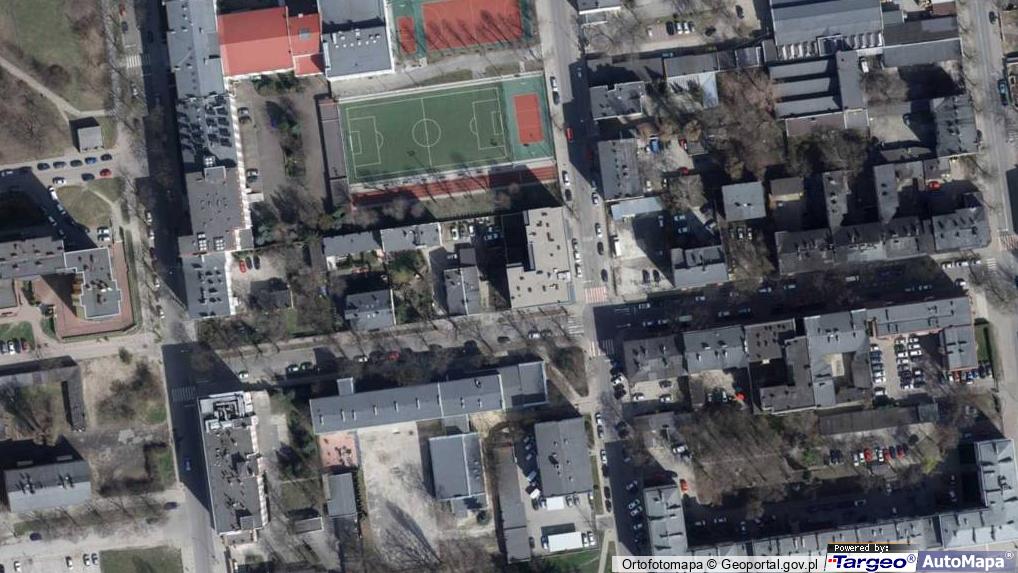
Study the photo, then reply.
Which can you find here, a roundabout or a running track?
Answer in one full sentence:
Looking from above, you can make out a running track.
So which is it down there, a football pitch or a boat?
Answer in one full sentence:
The image shows a football pitch.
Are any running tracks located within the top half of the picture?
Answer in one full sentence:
Yes, I can see a running track within the top half of the picture.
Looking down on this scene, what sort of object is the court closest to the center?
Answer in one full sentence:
It looks like the court closest to the center is a basketball court.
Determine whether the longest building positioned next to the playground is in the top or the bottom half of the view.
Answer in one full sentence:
It is in the bottom half that the longest building positioned next to the playground appears.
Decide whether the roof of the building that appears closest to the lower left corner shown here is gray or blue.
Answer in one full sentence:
The color of the roof of the building that appears closest to the lower left corner is gray.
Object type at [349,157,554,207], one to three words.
running track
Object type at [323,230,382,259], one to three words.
house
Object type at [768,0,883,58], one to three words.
building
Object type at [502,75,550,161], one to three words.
basketball court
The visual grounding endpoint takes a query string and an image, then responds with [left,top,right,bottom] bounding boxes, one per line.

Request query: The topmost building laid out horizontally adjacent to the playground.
[310,362,549,436]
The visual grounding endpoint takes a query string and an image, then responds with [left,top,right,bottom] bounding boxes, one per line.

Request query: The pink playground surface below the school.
[319,431,358,469]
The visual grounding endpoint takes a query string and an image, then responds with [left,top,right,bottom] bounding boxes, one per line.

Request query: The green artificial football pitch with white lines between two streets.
[340,81,517,185]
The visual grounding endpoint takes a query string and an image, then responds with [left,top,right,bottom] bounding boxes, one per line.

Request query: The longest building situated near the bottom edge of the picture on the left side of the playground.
[198,391,270,546]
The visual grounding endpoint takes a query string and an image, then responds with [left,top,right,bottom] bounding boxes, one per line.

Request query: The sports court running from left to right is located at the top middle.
[390,0,534,60]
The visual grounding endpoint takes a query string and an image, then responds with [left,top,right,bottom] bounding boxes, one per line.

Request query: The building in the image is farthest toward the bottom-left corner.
[5,461,92,511]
